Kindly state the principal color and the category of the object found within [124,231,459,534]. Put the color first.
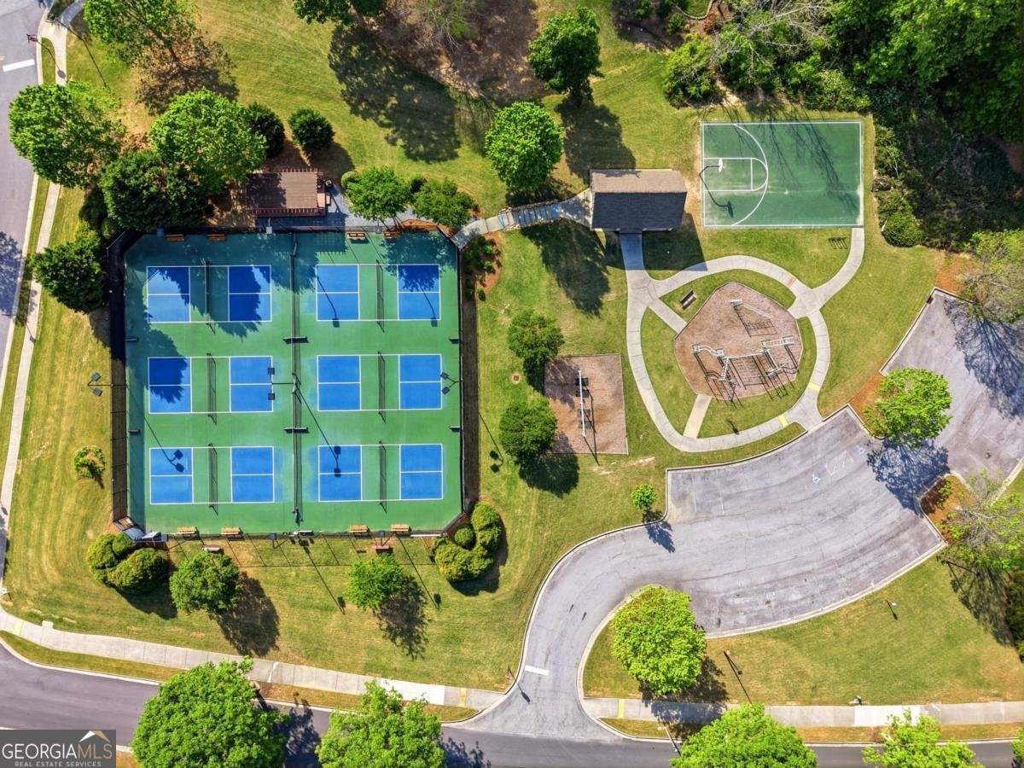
green tennis court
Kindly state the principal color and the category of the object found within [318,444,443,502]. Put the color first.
blue sports court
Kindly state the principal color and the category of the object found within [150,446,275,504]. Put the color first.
blue sports court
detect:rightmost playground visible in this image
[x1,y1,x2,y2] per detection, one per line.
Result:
[674,282,804,400]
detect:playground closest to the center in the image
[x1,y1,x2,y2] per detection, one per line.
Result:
[544,353,629,455]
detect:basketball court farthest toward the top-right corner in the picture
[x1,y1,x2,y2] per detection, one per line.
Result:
[701,121,864,229]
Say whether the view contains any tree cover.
Yes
